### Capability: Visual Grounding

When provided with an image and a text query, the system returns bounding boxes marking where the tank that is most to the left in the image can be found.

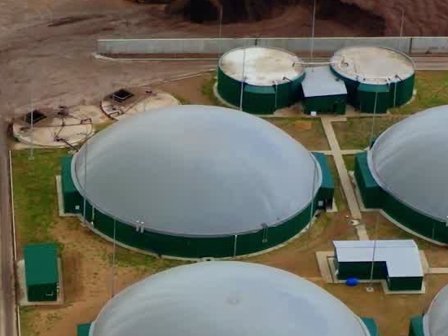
[11,108,93,150]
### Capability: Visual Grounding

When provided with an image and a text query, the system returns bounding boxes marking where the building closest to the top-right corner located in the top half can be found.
[294,64,349,120]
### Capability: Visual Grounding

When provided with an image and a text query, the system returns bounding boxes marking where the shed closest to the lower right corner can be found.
[319,238,432,298]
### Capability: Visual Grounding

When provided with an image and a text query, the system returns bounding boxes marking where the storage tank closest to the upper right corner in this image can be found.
[330,47,416,116]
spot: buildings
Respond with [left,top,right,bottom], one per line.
[294,64,349,120]
[319,238,432,298]
[11,242,63,305]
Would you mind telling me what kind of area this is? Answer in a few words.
industrial area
